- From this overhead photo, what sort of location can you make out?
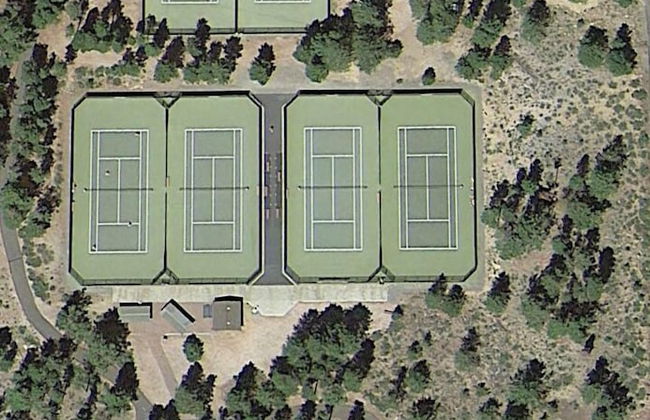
sports ground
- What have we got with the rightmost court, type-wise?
tennis court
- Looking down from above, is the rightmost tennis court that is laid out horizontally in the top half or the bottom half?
top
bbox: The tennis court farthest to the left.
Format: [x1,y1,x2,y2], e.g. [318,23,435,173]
[70,96,165,285]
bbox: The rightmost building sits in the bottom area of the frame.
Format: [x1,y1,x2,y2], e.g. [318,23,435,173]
[213,301,241,330]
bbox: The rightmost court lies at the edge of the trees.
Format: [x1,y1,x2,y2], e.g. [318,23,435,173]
[378,93,475,282]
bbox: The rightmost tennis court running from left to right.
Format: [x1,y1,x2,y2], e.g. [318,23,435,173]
[235,0,328,34]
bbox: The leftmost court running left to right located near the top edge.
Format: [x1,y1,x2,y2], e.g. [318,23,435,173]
[143,0,235,34]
